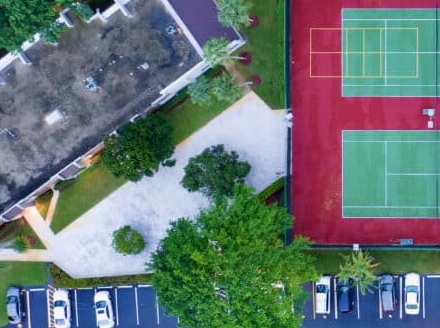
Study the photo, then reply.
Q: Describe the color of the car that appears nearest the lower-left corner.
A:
blue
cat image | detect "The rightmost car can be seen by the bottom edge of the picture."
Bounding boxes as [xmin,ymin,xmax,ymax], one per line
[403,273,421,314]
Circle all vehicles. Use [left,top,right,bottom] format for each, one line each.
[3,286,25,325]
[379,275,396,312]
[51,289,72,328]
[403,273,421,314]
[93,290,115,328]
[336,277,353,316]
[314,275,332,316]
